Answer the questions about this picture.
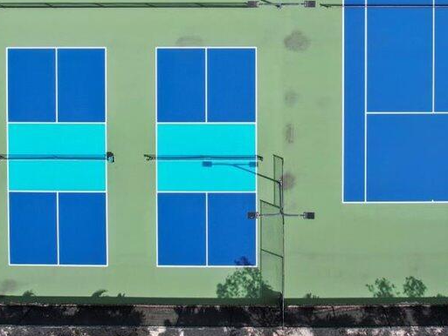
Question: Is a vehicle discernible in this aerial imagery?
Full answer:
No, there isn't any vehicle down there.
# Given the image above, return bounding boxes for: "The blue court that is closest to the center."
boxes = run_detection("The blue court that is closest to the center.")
[155,47,257,268]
